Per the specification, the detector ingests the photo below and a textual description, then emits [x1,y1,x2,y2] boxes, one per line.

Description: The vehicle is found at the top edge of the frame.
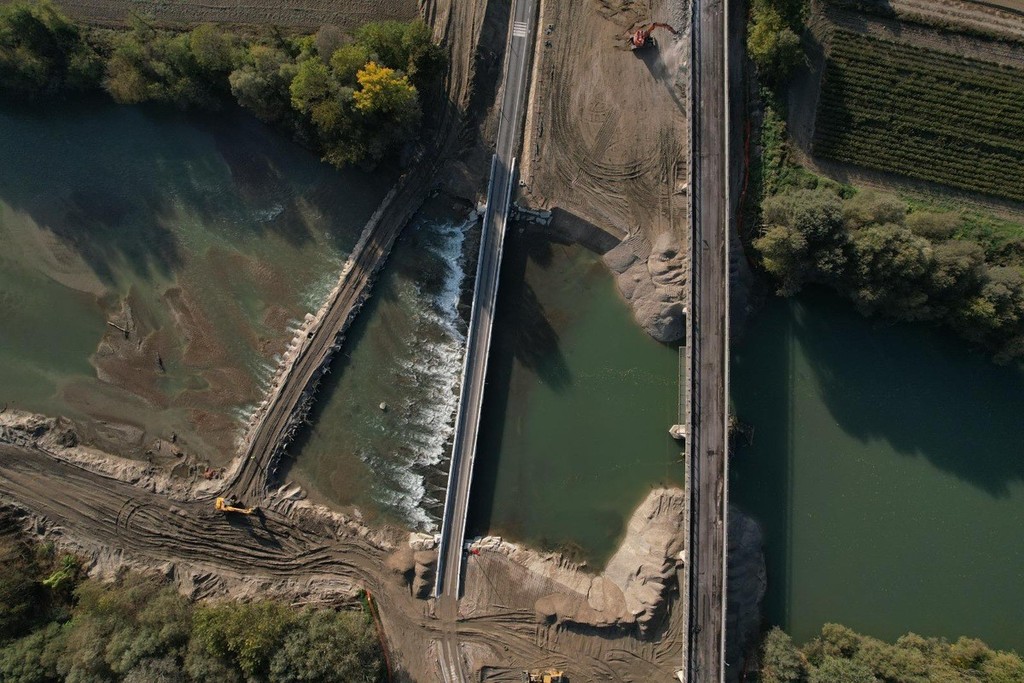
[629,30,680,50]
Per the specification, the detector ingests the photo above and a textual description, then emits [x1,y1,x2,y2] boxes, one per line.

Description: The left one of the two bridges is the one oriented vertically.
[435,153,515,603]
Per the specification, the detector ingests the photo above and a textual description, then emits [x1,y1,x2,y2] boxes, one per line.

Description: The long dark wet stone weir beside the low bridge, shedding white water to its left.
[424,208,485,537]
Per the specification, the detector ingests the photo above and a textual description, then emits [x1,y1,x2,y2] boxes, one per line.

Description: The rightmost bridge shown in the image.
[668,0,731,683]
